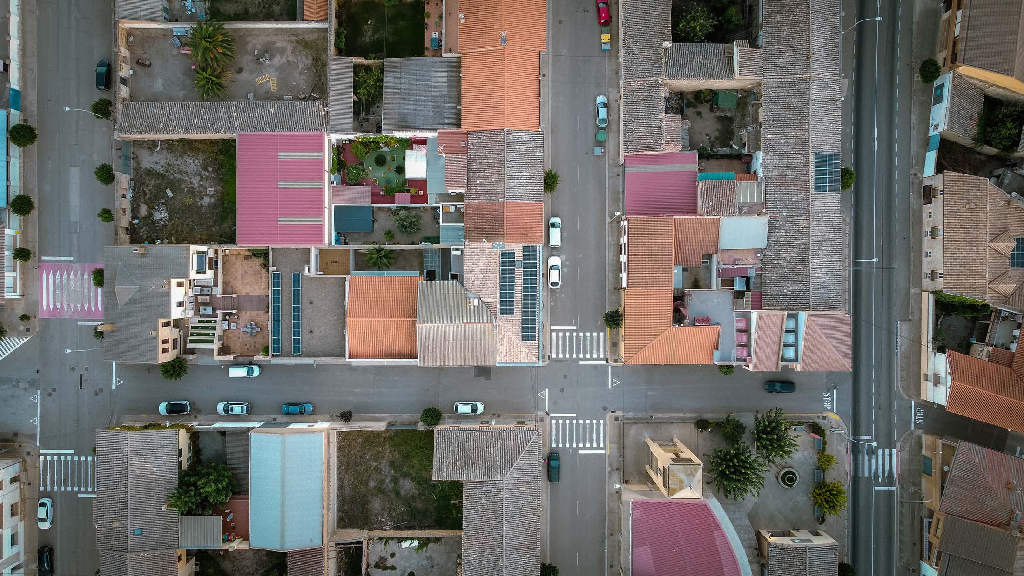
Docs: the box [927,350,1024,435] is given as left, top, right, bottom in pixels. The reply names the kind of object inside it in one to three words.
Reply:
house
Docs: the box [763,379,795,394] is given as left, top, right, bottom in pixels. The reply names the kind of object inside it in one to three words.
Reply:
car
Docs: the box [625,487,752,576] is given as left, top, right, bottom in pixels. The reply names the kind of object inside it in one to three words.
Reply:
building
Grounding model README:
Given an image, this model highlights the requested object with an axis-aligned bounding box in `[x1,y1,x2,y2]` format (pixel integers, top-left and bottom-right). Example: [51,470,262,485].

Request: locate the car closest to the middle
[546,257,562,289]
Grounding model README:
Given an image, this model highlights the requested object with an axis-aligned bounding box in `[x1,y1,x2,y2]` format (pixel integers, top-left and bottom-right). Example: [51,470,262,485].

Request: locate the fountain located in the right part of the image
[777,467,800,489]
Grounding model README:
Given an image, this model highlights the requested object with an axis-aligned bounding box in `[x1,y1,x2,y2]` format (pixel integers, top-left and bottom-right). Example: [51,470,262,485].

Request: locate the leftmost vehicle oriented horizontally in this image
[160,400,192,415]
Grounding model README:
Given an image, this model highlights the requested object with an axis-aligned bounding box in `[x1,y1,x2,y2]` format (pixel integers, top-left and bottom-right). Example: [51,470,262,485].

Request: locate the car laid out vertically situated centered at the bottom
[546,452,561,482]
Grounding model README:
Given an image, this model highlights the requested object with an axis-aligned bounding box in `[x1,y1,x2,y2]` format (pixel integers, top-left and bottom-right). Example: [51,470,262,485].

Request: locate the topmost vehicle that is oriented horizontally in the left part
[227,364,262,378]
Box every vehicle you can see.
[594,96,609,127]
[218,401,252,416]
[595,0,611,27]
[763,379,795,394]
[282,401,314,416]
[546,452,561,482]
[227,364,262,378]
[160,400,192,415]
[37,545,56,576]
[547,216,562,247]
[95,61,113,91]
[546,257,562,289]
[454,401,484,416]
[37,496,56,528]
